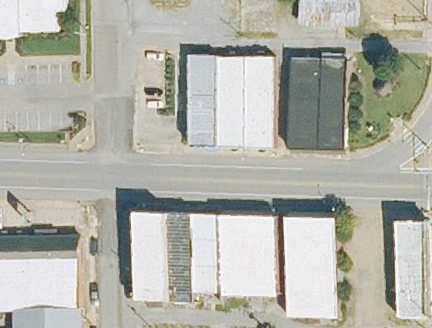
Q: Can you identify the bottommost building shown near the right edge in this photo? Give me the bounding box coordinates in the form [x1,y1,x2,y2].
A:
[394,221,431,319]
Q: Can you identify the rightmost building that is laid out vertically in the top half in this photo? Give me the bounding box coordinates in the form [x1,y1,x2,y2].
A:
[318,52,348,150]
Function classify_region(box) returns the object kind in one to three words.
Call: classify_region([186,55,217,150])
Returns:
building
